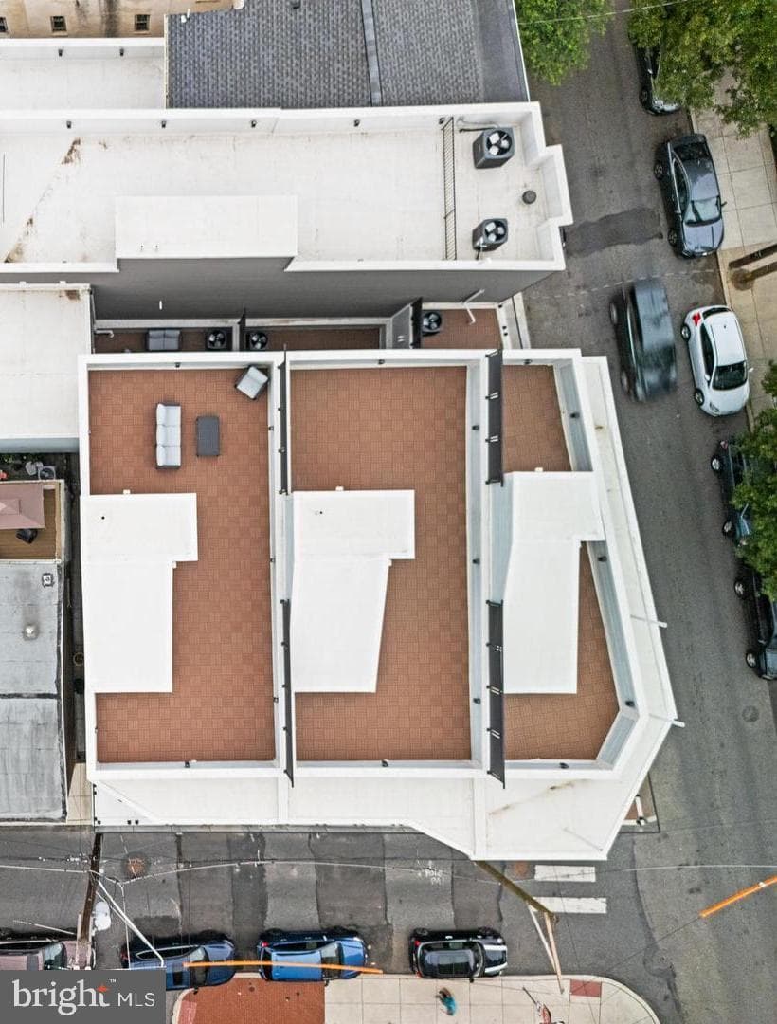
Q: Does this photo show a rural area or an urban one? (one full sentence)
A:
The area shown here is urban.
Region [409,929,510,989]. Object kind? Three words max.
car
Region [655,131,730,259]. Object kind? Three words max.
car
